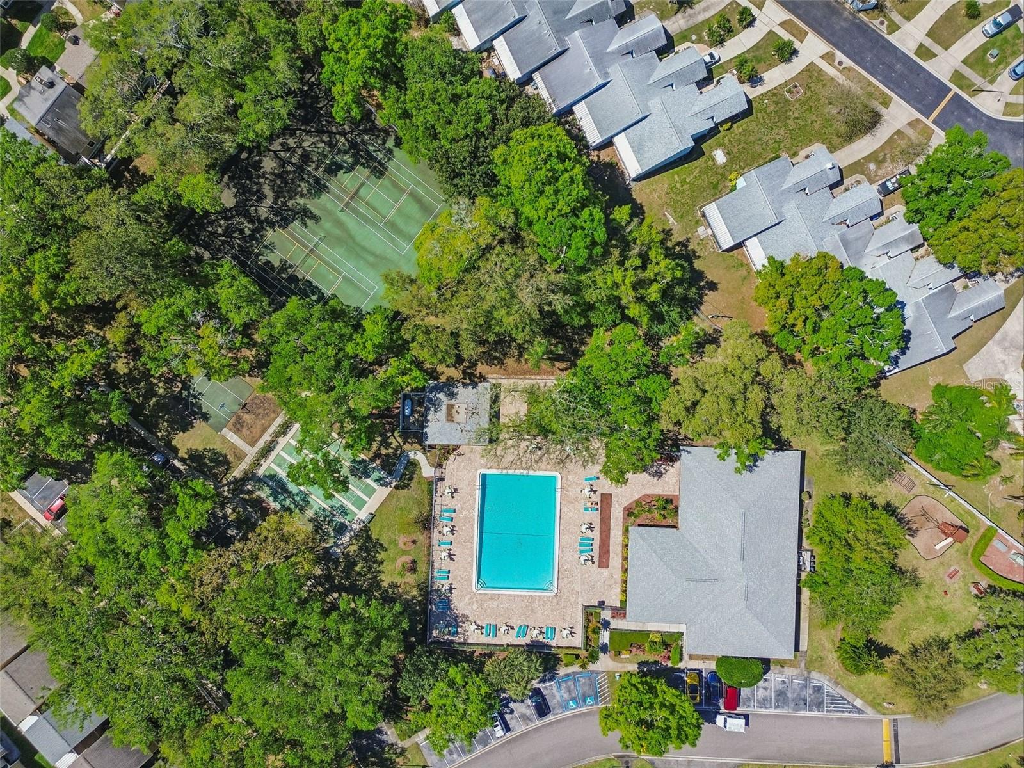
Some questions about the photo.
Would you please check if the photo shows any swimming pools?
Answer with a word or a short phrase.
Yes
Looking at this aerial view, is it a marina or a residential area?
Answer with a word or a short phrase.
residential area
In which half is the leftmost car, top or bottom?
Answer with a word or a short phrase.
bottom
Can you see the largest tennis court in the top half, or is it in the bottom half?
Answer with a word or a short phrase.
top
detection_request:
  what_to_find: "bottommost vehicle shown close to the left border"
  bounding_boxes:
[42,493,70,523]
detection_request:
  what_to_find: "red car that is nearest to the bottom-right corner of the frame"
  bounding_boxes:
[724,686,739,713]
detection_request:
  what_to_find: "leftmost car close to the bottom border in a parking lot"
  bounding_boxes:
[488,707,509,740]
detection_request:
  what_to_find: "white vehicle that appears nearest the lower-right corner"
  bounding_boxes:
[715,713,748,734]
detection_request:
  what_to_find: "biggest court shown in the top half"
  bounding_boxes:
[177,62,486,362]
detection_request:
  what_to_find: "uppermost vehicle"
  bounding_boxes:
[983,4,1024,37]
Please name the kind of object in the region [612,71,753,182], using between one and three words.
house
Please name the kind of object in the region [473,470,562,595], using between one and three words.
swimming pool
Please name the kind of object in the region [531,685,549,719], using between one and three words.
car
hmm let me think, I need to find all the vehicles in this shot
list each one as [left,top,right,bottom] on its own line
[1008,59,1024,79]
[983,4,1024,37]
[488,707,509,740]
[686,671,701,702]
[531,685,549,719]
[706,670,721,703]
[724,686,739,713]
[42,493,70,523]
[875,166,914,196]
[715,713,748,734]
